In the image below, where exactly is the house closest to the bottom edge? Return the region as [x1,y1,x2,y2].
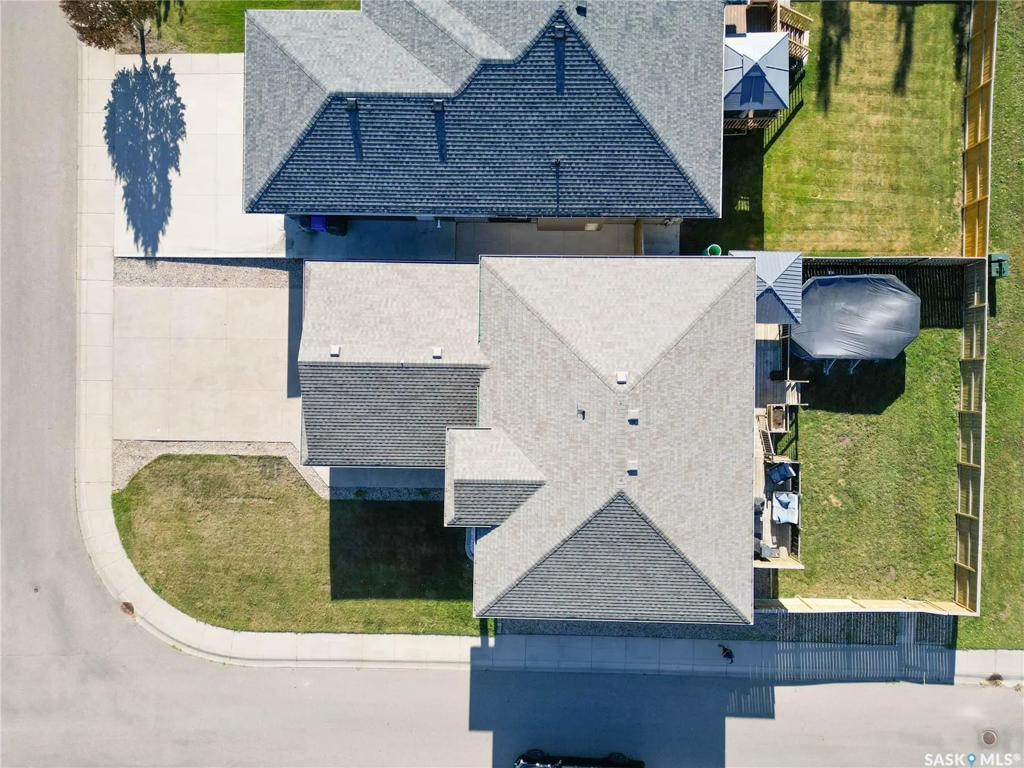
[302,256,756,622]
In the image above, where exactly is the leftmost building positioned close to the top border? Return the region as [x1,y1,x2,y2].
[243,0,724,230]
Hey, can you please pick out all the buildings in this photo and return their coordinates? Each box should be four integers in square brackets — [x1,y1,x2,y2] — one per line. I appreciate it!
[243,0,724,230]
[302,256,756,622]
